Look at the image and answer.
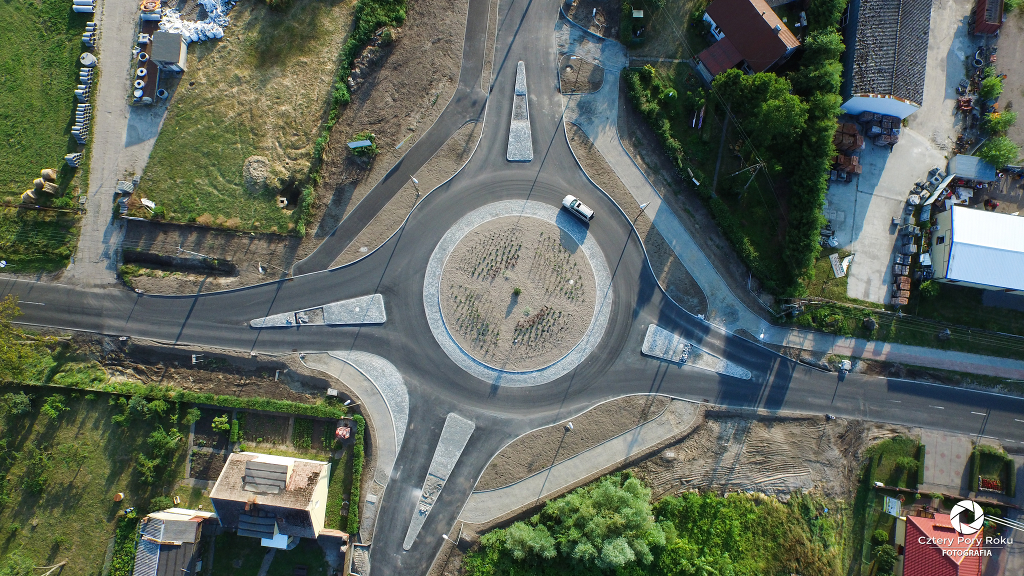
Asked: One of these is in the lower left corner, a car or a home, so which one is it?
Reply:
home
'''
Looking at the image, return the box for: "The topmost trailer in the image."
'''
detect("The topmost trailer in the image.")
[978,0,1014,38]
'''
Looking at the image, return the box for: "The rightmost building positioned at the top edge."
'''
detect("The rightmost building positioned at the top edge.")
[839,0,930,116]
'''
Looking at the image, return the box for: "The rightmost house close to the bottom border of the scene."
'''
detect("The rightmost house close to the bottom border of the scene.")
[893,509,984,576]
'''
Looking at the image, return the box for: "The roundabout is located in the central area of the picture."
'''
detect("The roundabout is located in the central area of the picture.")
[388,166,648,425]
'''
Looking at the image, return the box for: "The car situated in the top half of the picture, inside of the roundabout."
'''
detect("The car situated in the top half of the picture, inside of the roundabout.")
[560,194,598,224]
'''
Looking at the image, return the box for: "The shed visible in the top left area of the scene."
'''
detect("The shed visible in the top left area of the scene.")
[150,31,190,70]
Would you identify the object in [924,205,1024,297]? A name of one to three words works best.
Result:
building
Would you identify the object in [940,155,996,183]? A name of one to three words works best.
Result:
shed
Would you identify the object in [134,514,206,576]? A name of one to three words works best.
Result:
shed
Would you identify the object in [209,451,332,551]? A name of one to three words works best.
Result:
house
